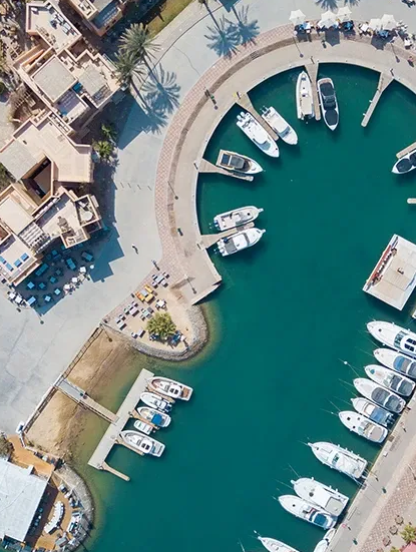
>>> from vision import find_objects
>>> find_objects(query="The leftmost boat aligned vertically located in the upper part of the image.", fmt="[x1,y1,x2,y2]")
[293,70,313,124]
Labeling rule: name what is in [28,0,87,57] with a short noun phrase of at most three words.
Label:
house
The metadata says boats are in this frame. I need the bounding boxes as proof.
[212,206,263,229]
[293,433,379,488]
[316,78,338,131]
[293,70,313,124]
[138,406,173,428]
[390,145,416,174]
[218,151,262,175]
[354,338,416,381]
[351,360,415,402]
[312,394,396,447]
[261,108,297,145]
[121,432,168,457]
[341,394,404,428]
[323,526,335,539]
[134,421,159,436]
[253,528,306,552]
[215,230,265,255]
[261,481,344,537]
[146,377,194,403]
[356,316,416,356]
[275,468,355,519]
[141,394,176,413]
[340,368,413,416]
[236,117,279,158]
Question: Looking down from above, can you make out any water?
Yes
